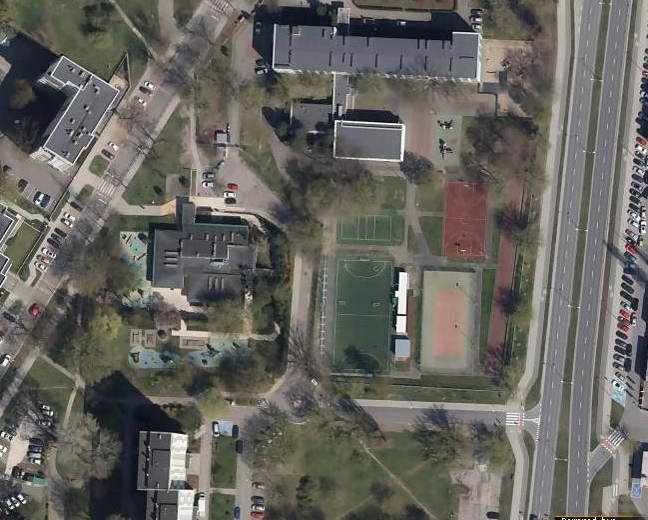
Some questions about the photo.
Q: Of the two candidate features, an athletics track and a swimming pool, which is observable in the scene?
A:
athletics track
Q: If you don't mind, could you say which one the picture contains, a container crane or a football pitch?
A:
football pitch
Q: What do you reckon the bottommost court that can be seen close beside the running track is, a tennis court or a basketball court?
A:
tennis court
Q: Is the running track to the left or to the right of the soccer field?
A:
to the right of it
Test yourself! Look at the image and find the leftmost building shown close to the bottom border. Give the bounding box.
[136,432,200,520]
